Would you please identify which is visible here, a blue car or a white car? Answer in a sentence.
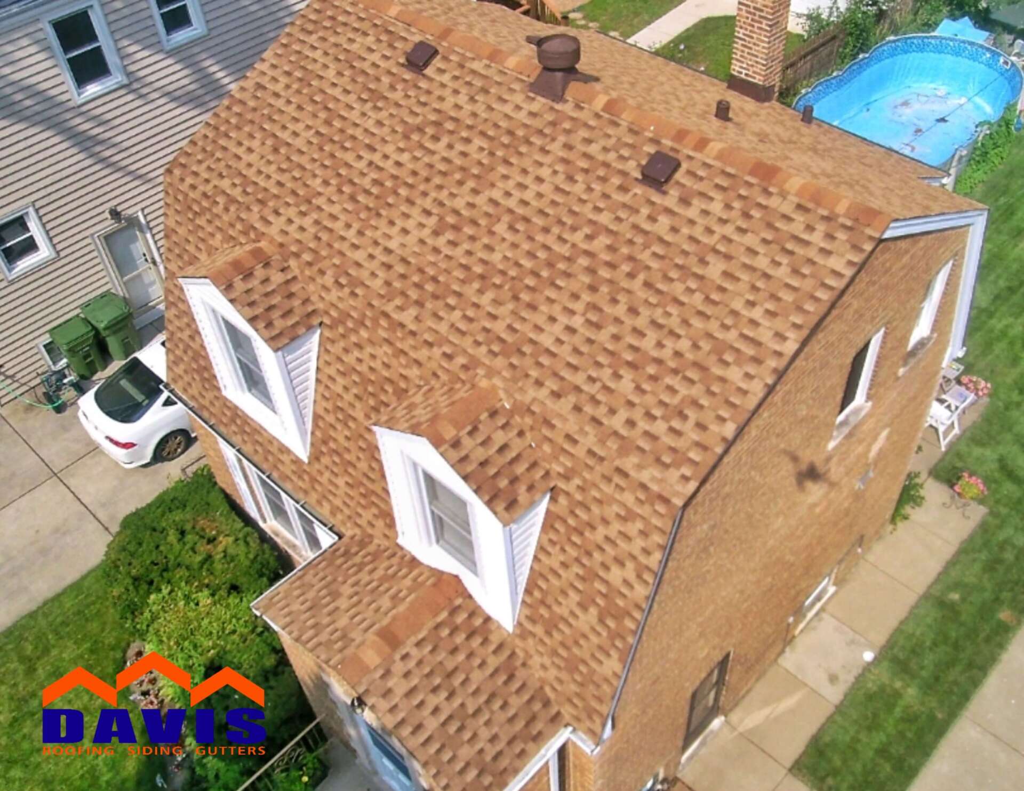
It is a white car that can be seen here.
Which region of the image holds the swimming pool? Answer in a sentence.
The swimming pool appears toward the top right of the photo.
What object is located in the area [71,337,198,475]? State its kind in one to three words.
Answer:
car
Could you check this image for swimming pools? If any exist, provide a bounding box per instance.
[780,28,1024,198]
